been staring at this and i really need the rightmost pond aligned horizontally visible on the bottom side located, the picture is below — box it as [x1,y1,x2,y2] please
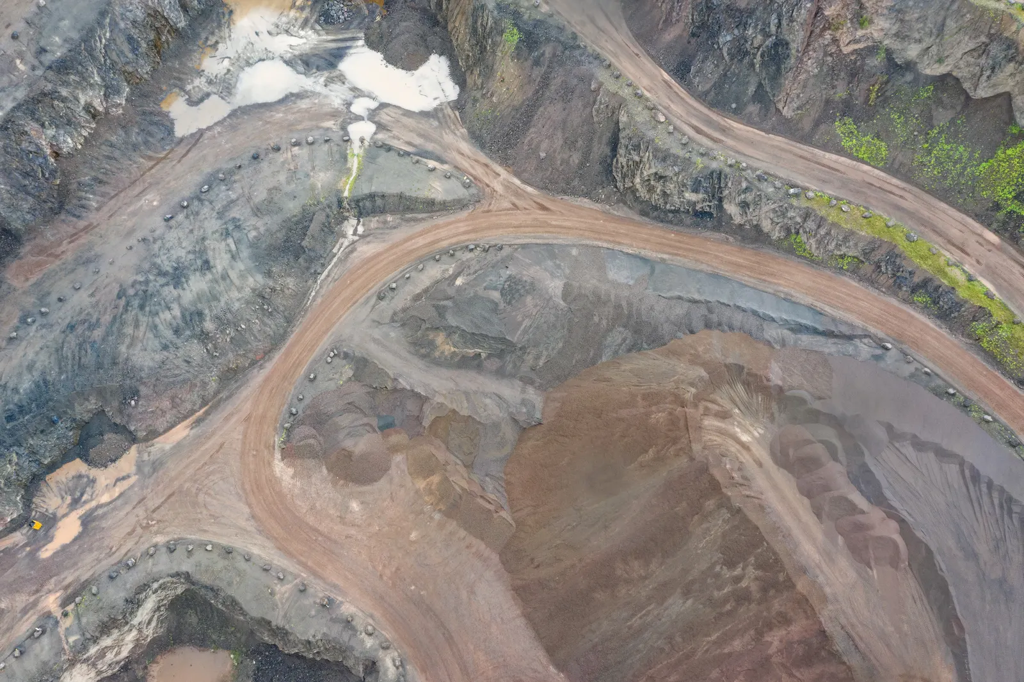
[148,645,235,682]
